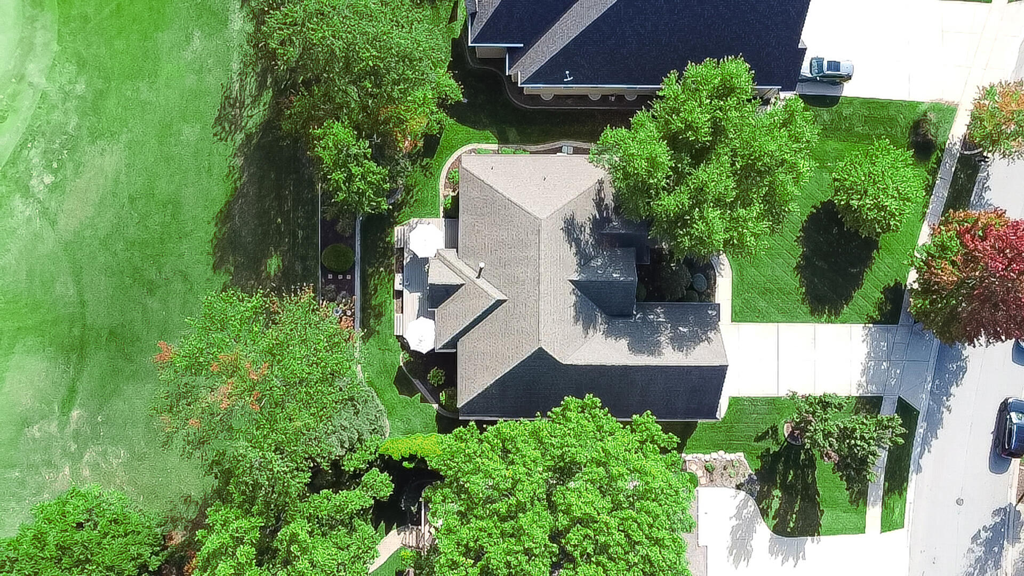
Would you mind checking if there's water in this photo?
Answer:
No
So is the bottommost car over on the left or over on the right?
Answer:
right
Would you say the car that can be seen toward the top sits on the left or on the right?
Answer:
right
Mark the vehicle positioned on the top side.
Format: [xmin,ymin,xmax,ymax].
[796,56,853,84]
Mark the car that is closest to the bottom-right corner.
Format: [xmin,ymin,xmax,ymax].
[994,399,1024,457]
